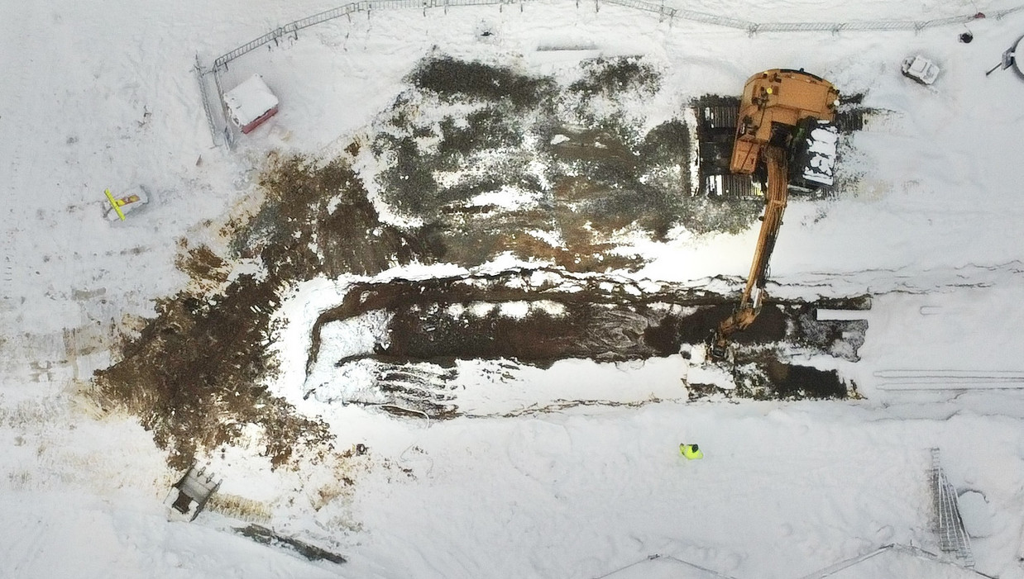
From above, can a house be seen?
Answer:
No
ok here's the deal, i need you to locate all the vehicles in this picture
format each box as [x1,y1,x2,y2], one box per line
[695,68,840,363]
[898,56,939,87]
